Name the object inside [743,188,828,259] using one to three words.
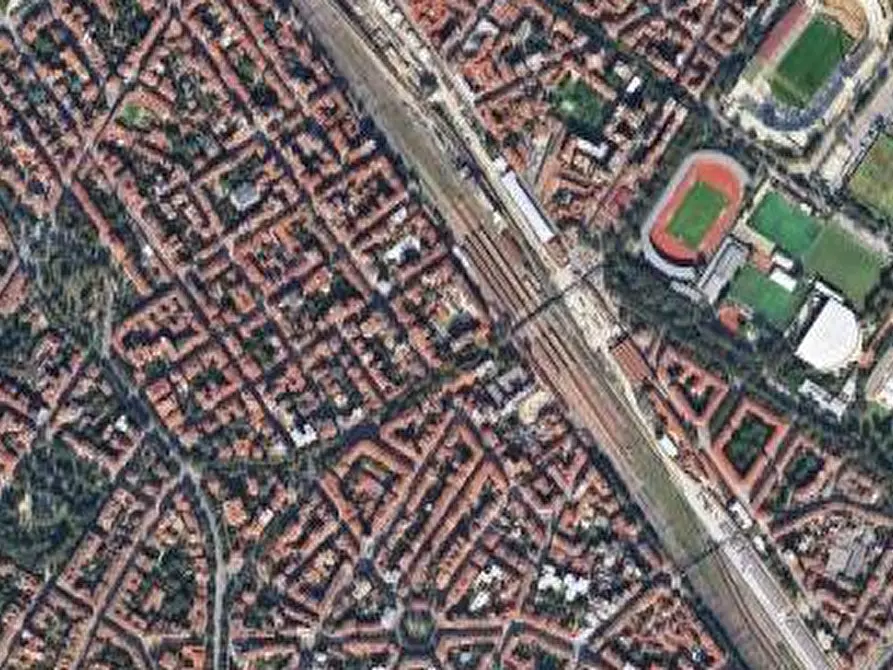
soccer field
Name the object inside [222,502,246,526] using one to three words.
house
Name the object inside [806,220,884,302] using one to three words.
soccer field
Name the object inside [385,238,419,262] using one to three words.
building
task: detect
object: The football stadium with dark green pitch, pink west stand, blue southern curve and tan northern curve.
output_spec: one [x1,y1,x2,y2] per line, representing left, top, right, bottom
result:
[749,0,875,132]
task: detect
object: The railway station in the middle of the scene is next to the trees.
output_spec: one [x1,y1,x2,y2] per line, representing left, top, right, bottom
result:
[449,170,576,366]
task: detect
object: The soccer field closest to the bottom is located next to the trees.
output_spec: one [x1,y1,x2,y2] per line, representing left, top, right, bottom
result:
[726,263,798,325]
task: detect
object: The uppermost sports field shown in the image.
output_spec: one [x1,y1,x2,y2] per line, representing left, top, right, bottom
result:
[774,19,843,99]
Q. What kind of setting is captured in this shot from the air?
residential area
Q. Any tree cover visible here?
Yes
